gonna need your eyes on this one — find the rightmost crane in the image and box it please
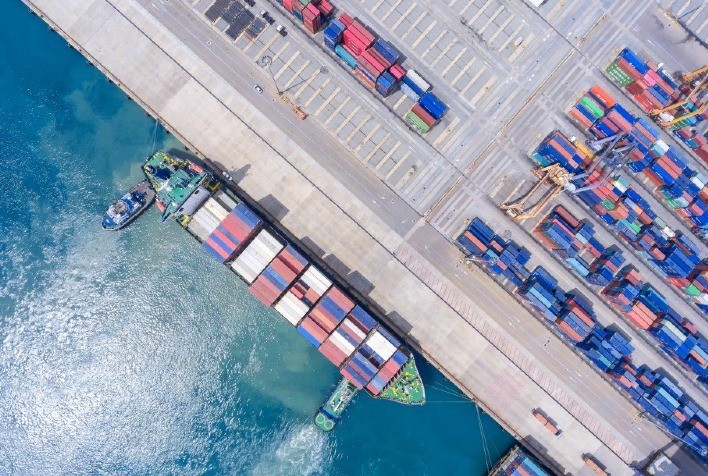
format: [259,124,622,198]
[652,66,708,131]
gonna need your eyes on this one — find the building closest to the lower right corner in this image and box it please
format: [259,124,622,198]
[637,441,679,476]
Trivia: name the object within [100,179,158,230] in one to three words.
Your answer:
boat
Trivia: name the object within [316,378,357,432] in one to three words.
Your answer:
boat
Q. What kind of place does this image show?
port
